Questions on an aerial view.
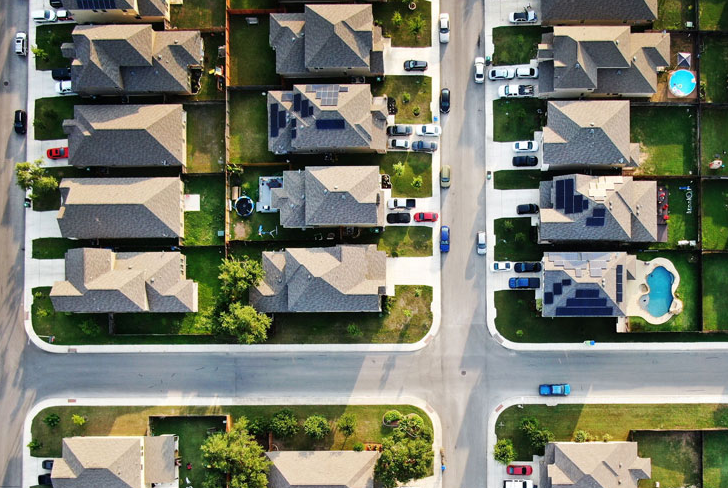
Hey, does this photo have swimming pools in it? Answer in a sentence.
Yes, a swimming pool appears in the view.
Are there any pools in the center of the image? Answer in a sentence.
No, no pool can be made out in the center of the image.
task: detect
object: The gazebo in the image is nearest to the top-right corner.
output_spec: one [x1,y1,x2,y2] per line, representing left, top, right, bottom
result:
[677,47,694,66]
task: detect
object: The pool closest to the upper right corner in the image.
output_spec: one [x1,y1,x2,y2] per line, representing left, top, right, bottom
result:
[669,67,698,97]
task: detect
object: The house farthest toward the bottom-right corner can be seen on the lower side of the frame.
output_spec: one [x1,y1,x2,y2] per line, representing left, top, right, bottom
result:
[540,442,651,488]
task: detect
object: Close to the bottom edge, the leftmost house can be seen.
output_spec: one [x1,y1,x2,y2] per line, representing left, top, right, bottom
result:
[49,438,151,488]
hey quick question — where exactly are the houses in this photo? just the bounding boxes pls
[538,25,670,97]
[539,171,658,243]
[543,252,637,317]
[271,166,384,228]
[58,0,185,22]
[268,84,388,155]
[62,104,186,168]
[270,3,384,78]
[51,246,196,312]
[540,442,651,488]
[61,23,203,97]
[541,99,640,170]
[267,451,386,488]
[49,438,151,488]
[249,242,386,312]
[56,177,186,239]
